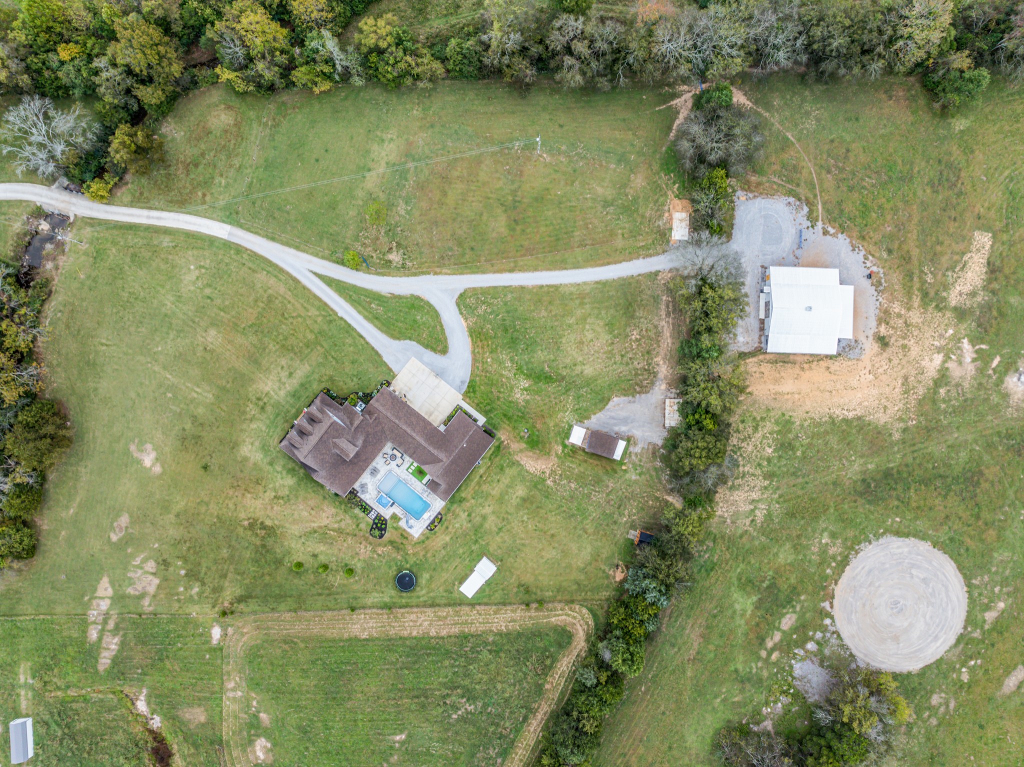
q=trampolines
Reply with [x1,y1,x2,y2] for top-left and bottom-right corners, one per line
[395,572,416,593]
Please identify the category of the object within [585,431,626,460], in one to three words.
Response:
shed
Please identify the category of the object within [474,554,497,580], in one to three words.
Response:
shed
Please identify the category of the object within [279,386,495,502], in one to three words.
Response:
house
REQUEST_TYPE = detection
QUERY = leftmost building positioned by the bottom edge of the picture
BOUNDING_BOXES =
[10,718,34,764]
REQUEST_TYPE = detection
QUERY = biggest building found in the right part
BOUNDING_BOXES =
[767,267,854,354]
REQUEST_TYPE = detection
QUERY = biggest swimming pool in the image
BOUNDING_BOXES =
[376,470,432,522]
